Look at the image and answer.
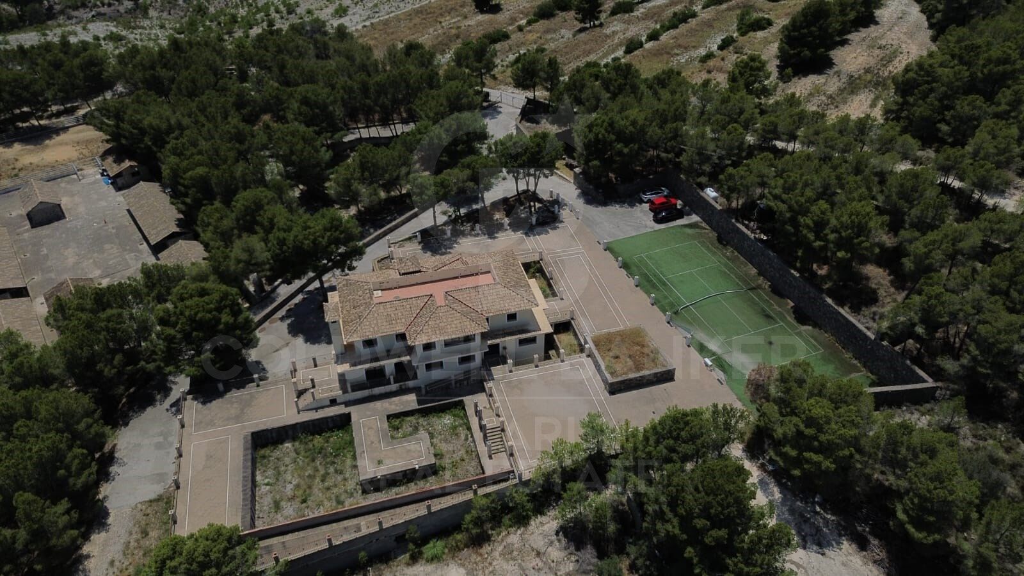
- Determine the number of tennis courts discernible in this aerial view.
1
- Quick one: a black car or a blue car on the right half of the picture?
black car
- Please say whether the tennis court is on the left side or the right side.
right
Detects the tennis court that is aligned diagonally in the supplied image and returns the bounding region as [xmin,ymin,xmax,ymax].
[607,215,868,417]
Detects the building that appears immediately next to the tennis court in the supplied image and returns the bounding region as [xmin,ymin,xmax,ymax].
[297,249,554,421]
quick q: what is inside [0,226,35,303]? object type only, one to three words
shed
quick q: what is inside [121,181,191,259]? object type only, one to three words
shed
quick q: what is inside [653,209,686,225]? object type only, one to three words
car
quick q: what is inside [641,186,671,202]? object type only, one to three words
car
